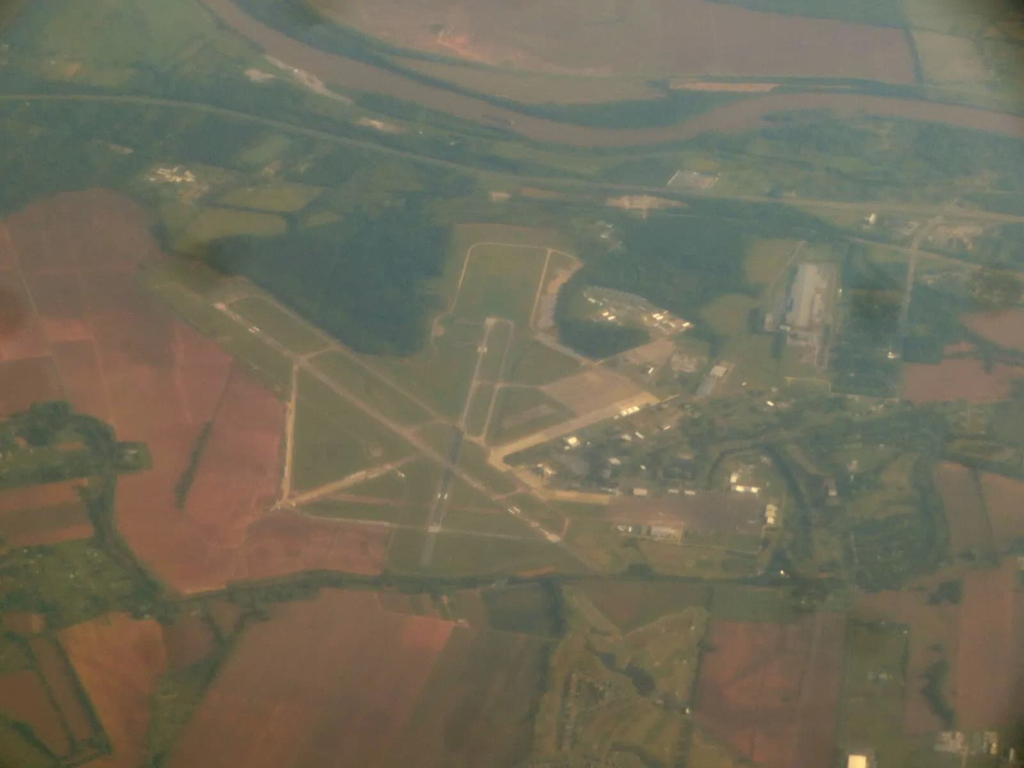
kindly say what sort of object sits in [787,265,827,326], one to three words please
building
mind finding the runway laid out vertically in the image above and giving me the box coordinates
[429,319,494,531]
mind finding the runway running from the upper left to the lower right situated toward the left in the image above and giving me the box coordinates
[220,305,563,540]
